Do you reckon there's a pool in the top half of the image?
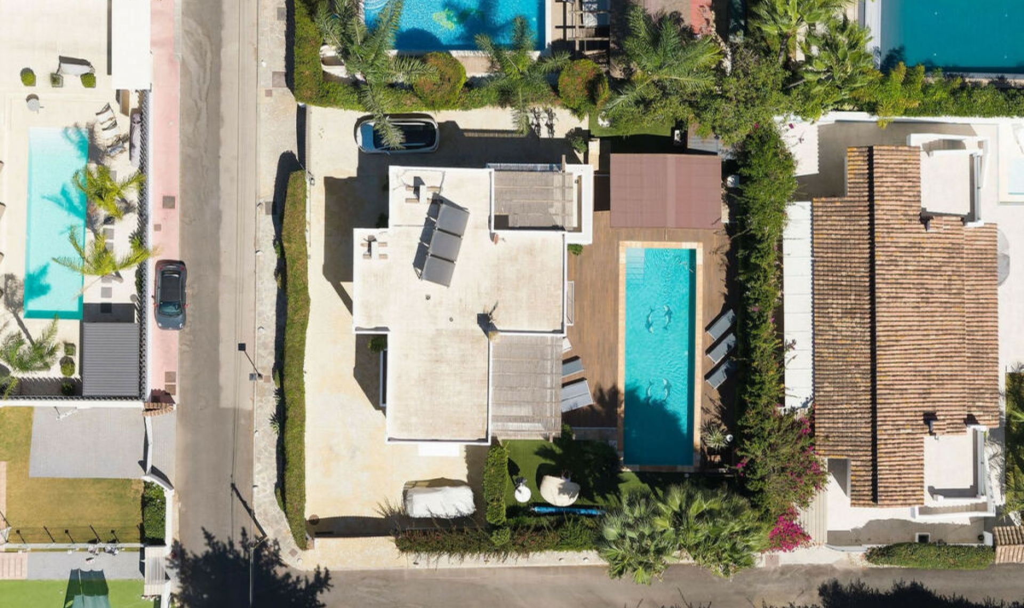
Yes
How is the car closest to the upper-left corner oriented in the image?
up and down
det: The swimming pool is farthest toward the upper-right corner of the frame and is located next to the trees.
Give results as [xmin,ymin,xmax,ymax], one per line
[875,0,1024,76]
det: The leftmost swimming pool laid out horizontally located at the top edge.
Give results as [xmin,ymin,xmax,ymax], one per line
[360,0,549,54]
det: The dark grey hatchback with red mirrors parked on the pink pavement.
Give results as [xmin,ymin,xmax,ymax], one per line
[150,261,186,330]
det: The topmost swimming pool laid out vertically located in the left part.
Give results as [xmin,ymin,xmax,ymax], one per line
[21,127,89,321]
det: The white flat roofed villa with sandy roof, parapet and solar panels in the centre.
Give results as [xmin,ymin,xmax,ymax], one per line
[353,164,593,457]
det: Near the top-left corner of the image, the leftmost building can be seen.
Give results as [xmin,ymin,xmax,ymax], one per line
[111,0,158,91]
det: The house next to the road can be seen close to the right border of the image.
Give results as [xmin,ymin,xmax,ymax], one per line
[809,133,1000,522]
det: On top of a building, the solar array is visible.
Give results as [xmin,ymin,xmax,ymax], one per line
[420,204,470,287]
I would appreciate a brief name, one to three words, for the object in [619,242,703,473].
swimming pool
